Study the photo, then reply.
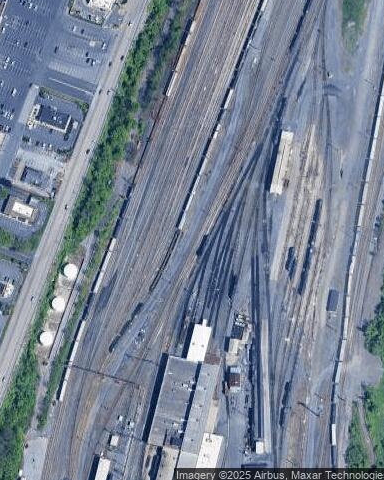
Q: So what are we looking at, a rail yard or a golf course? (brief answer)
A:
rail yard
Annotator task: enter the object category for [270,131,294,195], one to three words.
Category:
shed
